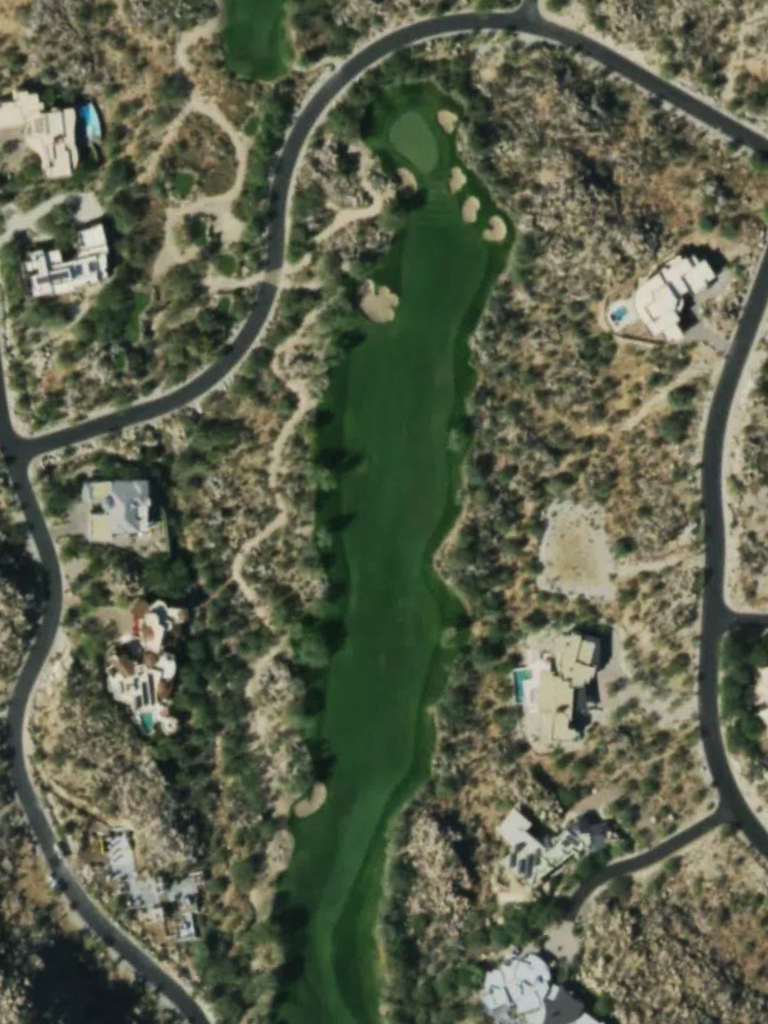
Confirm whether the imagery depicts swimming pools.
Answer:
Yes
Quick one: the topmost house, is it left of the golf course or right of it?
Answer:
to its left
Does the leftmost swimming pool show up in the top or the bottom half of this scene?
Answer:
top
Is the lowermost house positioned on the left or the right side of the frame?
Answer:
right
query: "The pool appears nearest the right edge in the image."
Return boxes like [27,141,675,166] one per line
[608,304,629,323]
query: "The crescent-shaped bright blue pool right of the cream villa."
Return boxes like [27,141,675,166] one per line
[79,101,102,145]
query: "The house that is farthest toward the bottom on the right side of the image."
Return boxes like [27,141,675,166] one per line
[483,950,551,1024]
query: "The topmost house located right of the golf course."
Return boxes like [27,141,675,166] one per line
[608,255,716,343]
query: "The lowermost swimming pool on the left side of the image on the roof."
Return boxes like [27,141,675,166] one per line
[140,710,155,733]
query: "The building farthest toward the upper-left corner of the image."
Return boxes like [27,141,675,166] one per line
[0,90,103,178]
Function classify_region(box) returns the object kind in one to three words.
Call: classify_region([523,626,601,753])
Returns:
house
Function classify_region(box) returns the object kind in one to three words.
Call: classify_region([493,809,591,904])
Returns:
house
